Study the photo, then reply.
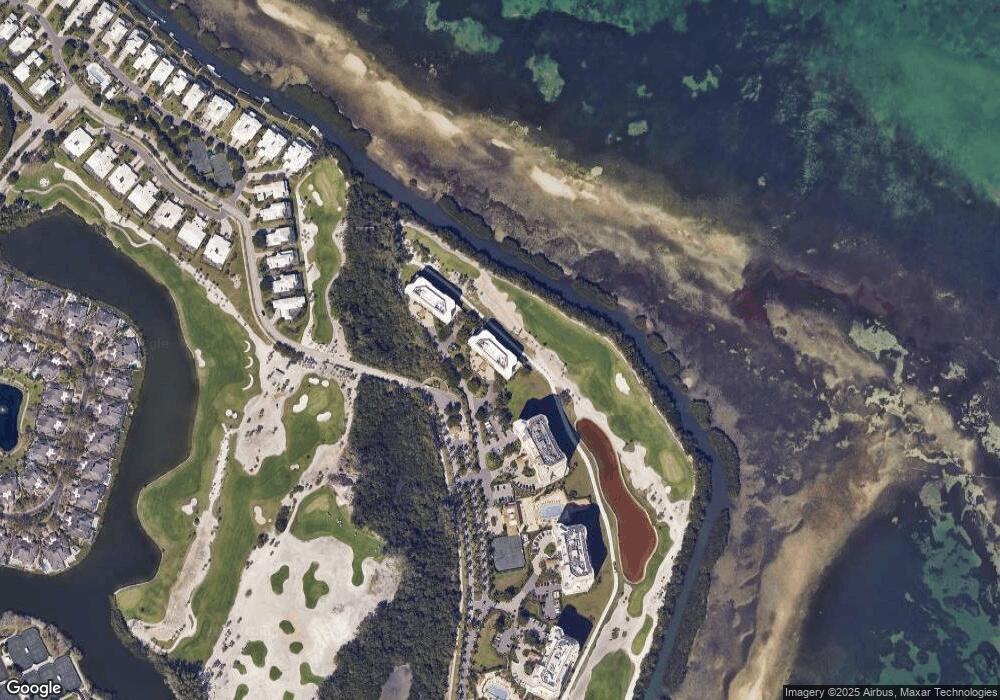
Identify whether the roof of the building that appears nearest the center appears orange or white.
white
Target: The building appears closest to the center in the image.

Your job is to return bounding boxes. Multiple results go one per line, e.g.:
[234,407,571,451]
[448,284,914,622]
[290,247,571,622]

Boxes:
[467,329,519,381]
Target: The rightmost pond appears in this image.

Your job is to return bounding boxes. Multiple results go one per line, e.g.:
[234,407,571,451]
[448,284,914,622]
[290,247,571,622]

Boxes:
[577,419,657,583]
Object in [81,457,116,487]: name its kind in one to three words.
house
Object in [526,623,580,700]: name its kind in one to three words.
building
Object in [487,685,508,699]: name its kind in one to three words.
swimming pool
